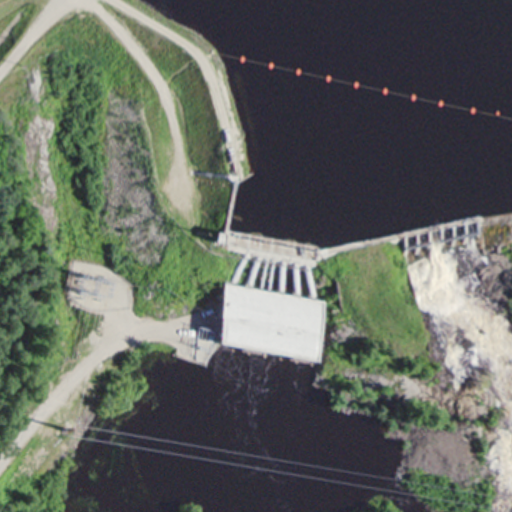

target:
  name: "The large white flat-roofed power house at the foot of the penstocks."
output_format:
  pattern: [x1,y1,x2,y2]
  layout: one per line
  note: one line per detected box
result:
[221,286,326,362]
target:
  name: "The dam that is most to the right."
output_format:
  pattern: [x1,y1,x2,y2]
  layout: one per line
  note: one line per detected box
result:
[401,218,482,252]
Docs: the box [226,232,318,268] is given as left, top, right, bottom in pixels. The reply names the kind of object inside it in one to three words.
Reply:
dam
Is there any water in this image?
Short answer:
Yes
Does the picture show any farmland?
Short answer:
No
